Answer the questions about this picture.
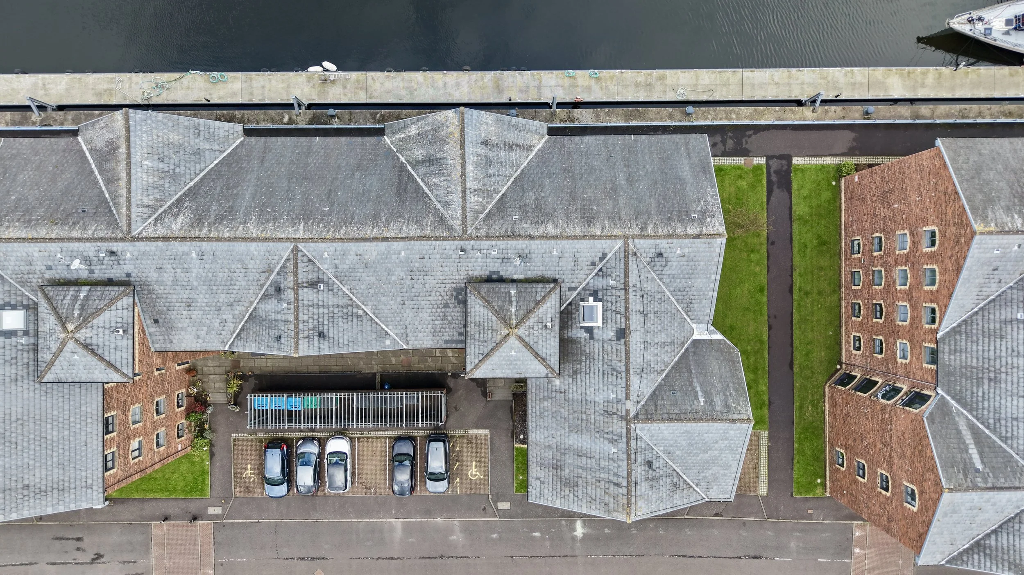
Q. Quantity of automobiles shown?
five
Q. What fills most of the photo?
buildings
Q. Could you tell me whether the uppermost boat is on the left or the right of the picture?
right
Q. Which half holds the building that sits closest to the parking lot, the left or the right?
left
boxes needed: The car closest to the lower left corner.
[262,440,293,497]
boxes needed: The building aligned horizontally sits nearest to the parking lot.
[245,386,450,430]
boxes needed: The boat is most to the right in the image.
[945,4,1024,57]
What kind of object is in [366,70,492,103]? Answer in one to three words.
pier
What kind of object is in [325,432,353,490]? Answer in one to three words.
car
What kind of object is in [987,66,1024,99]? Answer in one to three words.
pier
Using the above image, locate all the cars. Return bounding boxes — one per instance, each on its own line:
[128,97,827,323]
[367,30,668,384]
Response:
[390,433,418,494]
[262,440,293,497]
[423,431,450,489]
[325,432,353,490]
[295,435,323,493]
